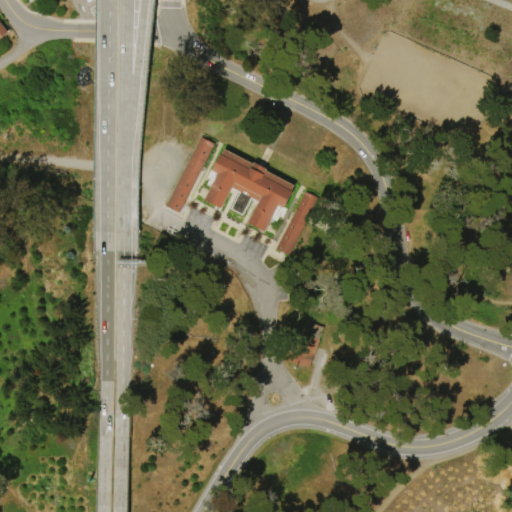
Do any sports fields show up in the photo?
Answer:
Yes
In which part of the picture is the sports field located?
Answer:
top right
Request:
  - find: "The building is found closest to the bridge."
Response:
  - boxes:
[168,138,214,212]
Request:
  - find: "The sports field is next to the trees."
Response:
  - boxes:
[360,30,496,126]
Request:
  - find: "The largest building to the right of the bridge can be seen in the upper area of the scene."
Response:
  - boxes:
[206,149,295,230]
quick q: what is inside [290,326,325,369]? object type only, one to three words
house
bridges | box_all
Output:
[92,0,154,259]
